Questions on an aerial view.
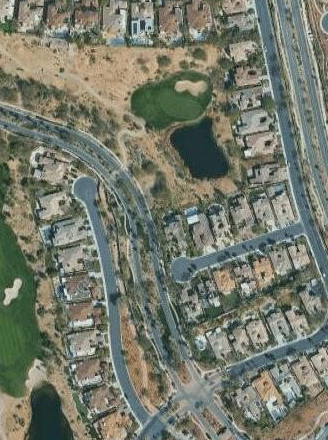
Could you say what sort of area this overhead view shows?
residential area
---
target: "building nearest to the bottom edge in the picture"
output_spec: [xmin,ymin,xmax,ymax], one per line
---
[98,411,135,440]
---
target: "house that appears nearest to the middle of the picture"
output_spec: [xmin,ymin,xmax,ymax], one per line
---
[163,220,189,254]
